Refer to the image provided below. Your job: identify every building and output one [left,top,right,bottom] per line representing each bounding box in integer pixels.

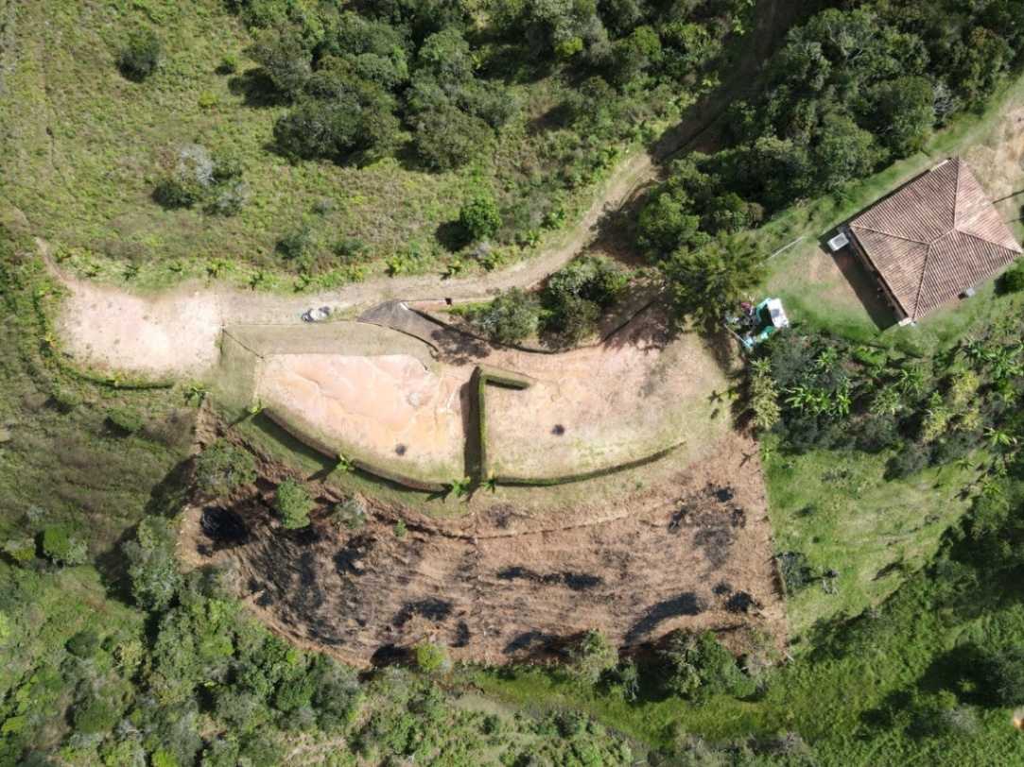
[842,155,1024,330]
